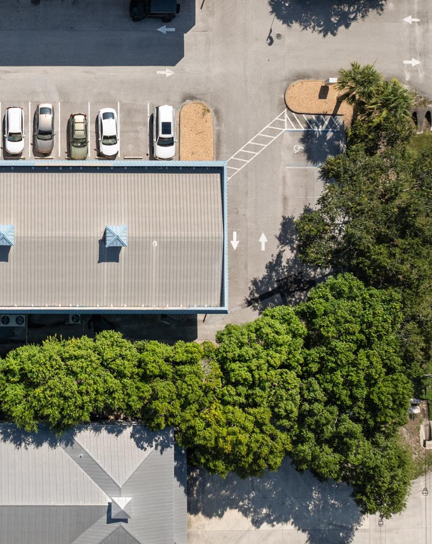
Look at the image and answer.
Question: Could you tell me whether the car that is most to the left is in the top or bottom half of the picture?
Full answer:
The car that is most to the left sits in the top half of the picture.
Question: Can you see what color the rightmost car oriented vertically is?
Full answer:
From above, the rightmost car oriented vertically appears white.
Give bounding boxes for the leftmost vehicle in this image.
[2,104,27,155]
